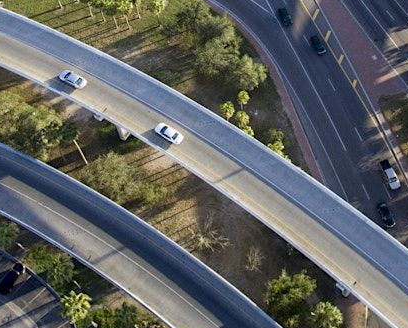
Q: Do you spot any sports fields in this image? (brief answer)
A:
No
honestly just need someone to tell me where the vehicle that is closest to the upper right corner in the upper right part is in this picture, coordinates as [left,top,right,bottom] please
[309,34,328,55]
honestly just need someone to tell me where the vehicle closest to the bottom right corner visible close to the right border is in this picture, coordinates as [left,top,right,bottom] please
[377,200,397,230]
